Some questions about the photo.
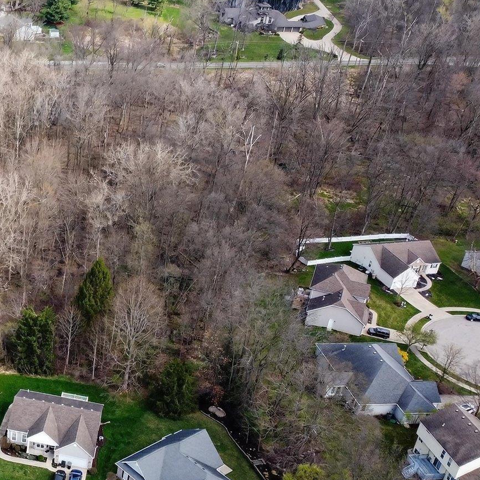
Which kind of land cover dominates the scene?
trees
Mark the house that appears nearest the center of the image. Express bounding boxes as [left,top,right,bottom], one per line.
[304,263,375,336]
